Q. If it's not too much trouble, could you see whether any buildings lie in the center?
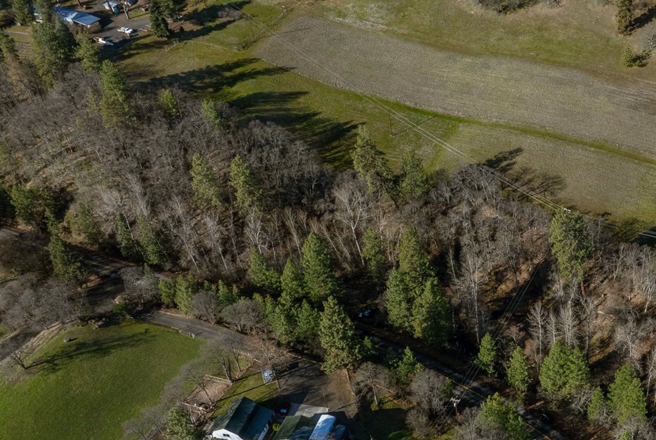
No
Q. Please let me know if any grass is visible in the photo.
Yes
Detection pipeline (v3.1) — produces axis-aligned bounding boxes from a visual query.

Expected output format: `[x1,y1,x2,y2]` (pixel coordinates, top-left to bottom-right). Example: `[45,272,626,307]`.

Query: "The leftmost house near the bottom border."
[208,390,276,440]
